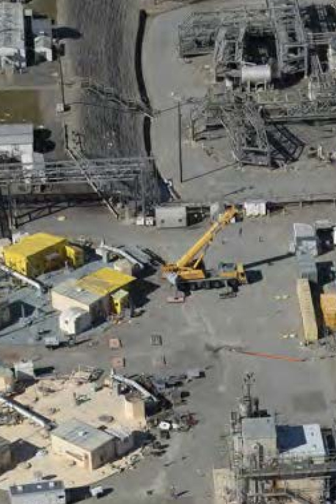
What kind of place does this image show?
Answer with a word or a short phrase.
industrial area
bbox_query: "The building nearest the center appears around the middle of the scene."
[155,205,188,228]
